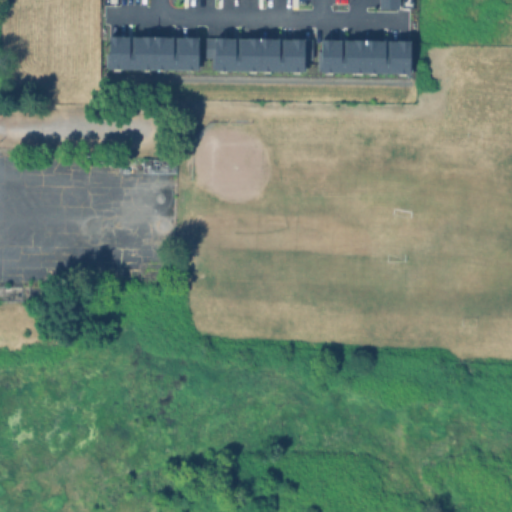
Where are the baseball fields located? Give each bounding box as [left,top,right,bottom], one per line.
[194,128,271,204]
